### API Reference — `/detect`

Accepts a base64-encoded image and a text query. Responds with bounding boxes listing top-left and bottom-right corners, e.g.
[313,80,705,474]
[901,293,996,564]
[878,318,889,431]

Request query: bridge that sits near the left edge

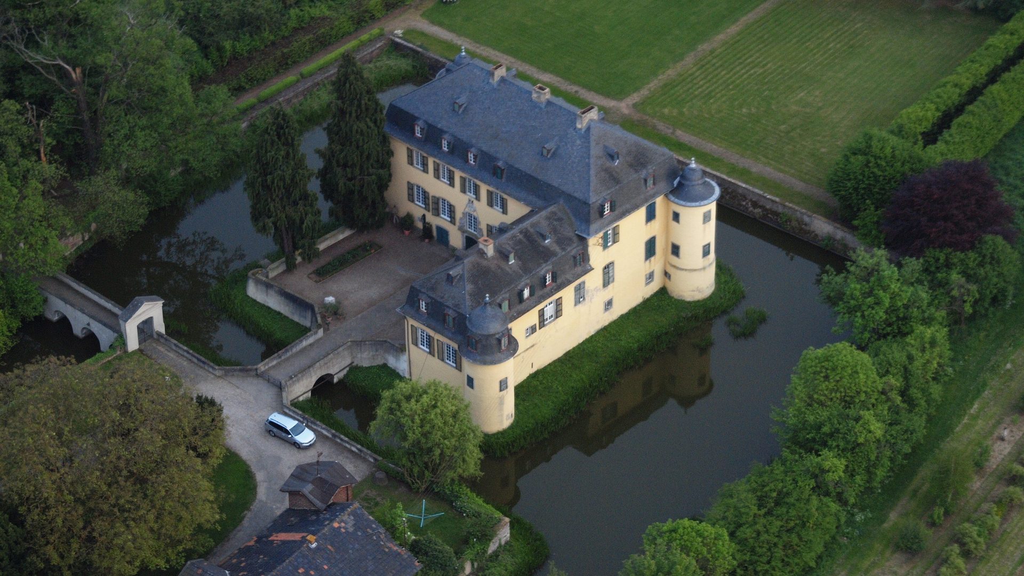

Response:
[27,258,145,363]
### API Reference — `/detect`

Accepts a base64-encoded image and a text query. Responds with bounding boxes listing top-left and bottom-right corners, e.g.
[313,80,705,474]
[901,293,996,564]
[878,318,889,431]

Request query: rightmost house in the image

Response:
[384,47,721,433]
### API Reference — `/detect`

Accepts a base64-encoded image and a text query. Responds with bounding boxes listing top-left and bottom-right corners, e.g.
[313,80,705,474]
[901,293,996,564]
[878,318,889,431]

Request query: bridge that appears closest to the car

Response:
[255,330,410,402]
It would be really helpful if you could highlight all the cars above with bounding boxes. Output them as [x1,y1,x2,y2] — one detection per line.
[262,410,317,449]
